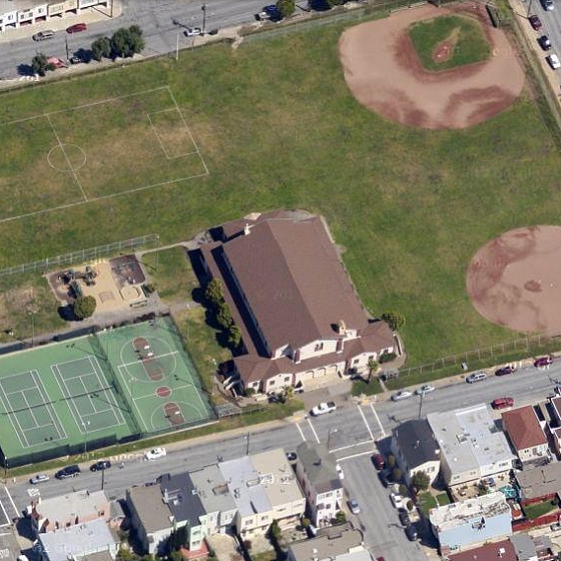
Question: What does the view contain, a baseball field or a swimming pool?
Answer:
baseball field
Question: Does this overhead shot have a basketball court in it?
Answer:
Yes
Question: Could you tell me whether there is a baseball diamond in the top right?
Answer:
Yes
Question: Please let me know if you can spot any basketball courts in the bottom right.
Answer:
No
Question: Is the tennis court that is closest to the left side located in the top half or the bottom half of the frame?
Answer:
bottom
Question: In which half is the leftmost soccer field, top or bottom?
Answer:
top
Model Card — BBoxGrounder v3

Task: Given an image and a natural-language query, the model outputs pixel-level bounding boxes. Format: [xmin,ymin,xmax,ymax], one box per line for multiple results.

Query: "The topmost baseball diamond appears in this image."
[340,0,525,129]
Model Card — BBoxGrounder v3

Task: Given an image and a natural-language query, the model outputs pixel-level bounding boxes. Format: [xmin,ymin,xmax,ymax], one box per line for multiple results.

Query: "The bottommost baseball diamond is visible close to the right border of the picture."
[466,224,561,332]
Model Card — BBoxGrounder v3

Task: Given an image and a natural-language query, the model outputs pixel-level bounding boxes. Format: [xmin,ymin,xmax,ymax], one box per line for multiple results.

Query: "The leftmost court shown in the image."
[0,369,66,448]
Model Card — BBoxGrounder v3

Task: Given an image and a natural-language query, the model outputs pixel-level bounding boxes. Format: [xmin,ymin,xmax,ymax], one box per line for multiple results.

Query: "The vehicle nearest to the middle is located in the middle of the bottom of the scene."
[311,402,335,415]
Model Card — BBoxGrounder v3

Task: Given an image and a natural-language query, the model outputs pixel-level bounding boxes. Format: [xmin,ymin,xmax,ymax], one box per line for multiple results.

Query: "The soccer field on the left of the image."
[0,85,209,221]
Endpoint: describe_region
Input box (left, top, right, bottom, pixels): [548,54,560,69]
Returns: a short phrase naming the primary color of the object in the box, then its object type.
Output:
white vehicle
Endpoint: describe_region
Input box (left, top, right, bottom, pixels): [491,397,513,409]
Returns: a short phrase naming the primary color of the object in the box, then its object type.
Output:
red vehicle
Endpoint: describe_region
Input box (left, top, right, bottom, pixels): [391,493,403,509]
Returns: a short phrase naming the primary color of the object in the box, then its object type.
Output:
white vehicle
